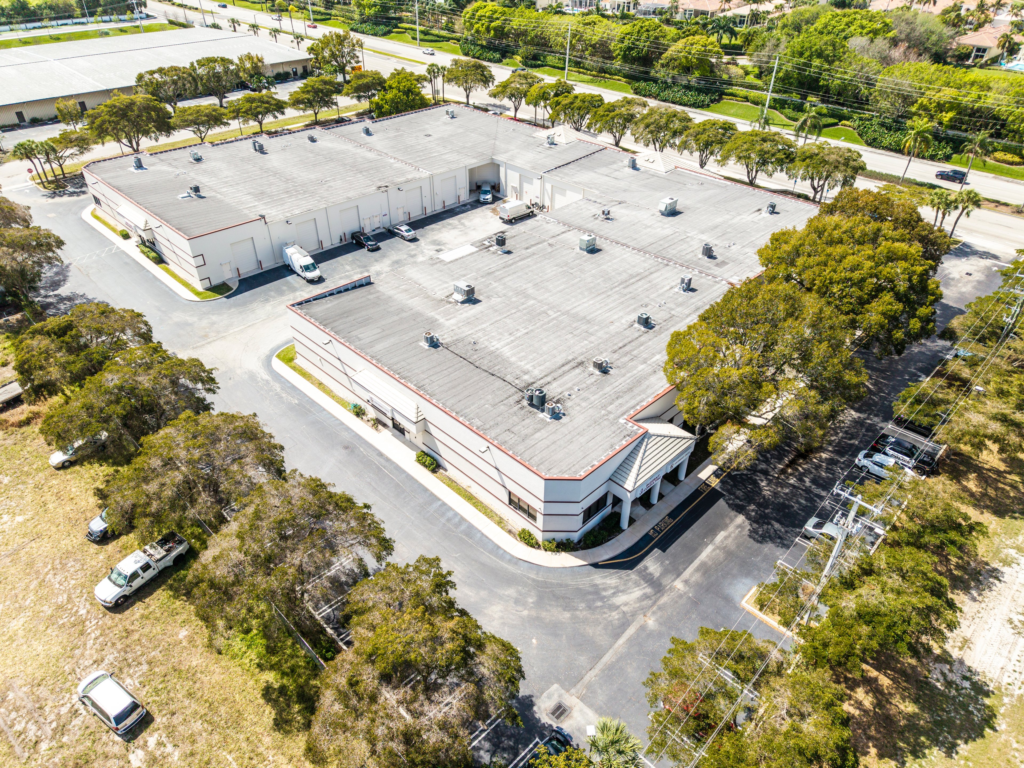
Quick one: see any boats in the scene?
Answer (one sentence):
No, this view has no boat in it.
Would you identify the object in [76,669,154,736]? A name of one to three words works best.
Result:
car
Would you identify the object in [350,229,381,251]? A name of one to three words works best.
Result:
car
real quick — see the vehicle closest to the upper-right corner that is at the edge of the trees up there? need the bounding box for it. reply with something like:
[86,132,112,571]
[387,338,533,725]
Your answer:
[933,168,971,183]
